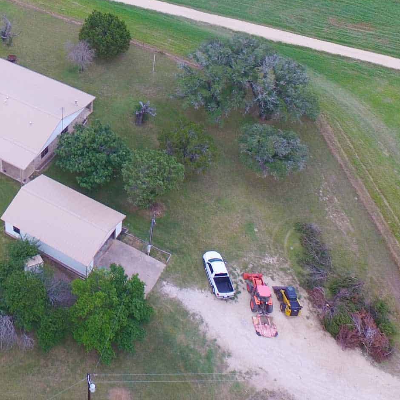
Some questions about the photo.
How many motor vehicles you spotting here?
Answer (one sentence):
In total, there are 3 motor vehicles in the scene.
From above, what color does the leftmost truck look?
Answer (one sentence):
The leftmost truck looks white in the image.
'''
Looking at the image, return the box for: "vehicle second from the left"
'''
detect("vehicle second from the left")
[243,281,275,320]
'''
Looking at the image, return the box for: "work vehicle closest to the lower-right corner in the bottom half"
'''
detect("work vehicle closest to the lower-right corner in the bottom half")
[272,285,303,315]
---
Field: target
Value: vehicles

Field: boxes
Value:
[243,281,275,320]
[203,254,238,303]
[272,285,303,315]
